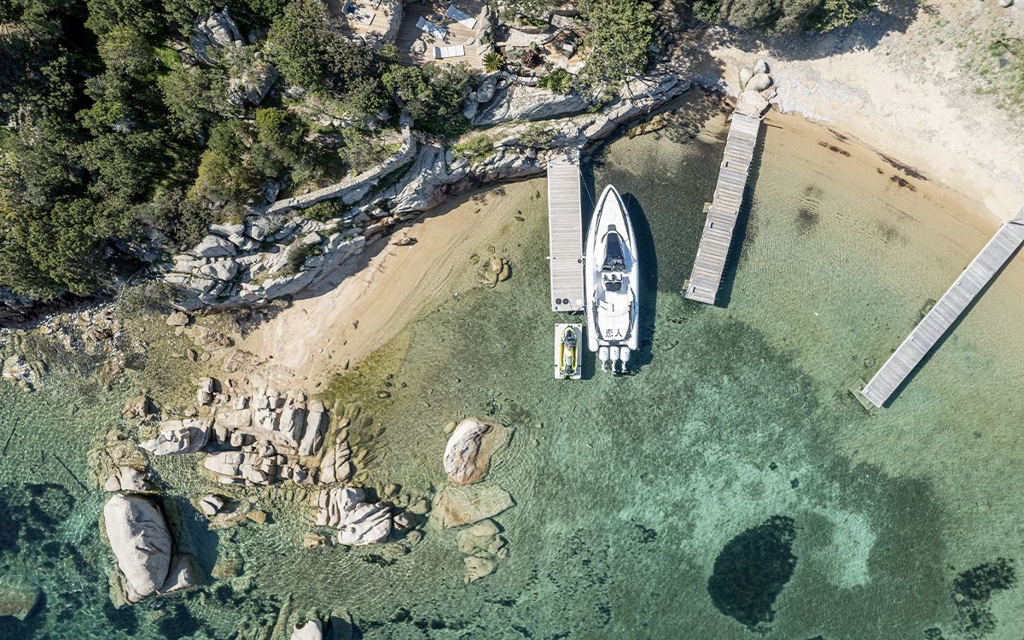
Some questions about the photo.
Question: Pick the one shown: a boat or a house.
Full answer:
It is a boat that can be seen here.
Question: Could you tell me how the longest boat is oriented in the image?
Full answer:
In this picture, the longest boat lies vertically.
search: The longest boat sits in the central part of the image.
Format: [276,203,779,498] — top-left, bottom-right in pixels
[585,184,638,374]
